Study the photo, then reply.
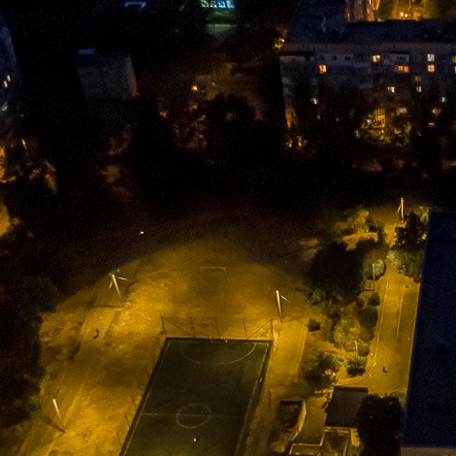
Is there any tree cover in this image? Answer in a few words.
Yes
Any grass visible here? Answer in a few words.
Yes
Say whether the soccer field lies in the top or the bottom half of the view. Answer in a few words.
bottom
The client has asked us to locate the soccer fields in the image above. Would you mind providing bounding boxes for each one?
[118,335,273,456]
